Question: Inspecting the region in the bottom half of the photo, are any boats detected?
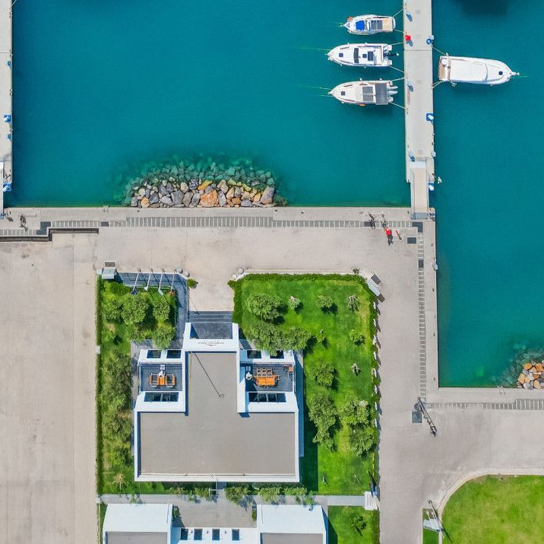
No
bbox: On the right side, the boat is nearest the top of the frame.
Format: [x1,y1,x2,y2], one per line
[290,12,403,36]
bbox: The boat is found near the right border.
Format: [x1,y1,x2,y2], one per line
[434,49,542,87]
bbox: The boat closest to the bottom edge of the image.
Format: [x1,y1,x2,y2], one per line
[272,74,401,109]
